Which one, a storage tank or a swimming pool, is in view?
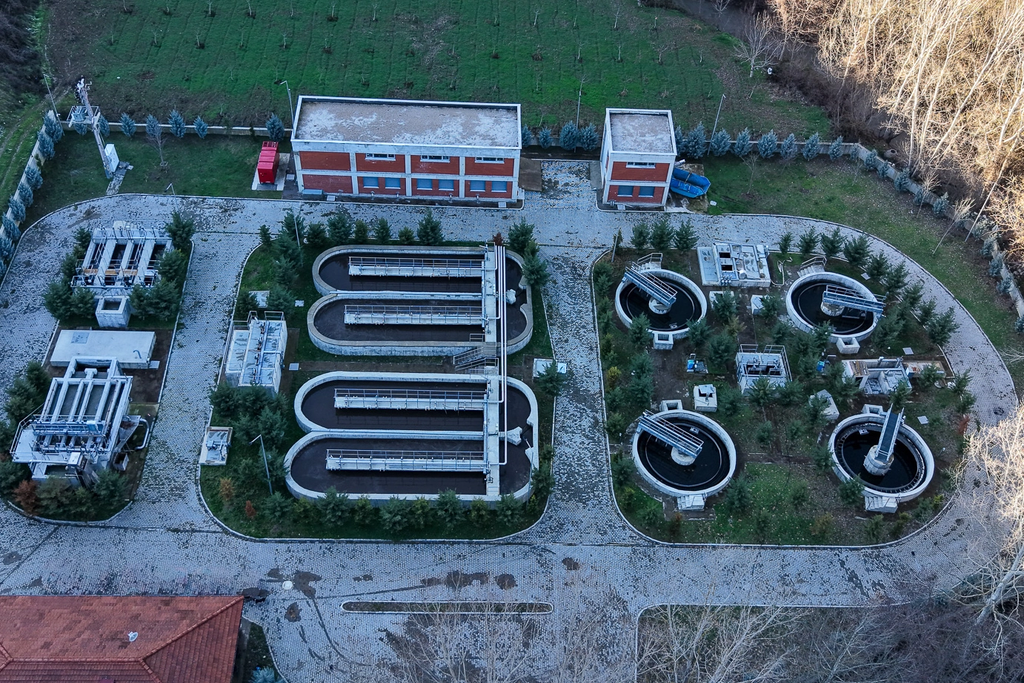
storage tank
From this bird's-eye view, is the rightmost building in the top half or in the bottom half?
top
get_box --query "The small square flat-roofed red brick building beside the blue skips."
[602,109,675,205]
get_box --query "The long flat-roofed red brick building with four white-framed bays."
[290,97,521,200]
